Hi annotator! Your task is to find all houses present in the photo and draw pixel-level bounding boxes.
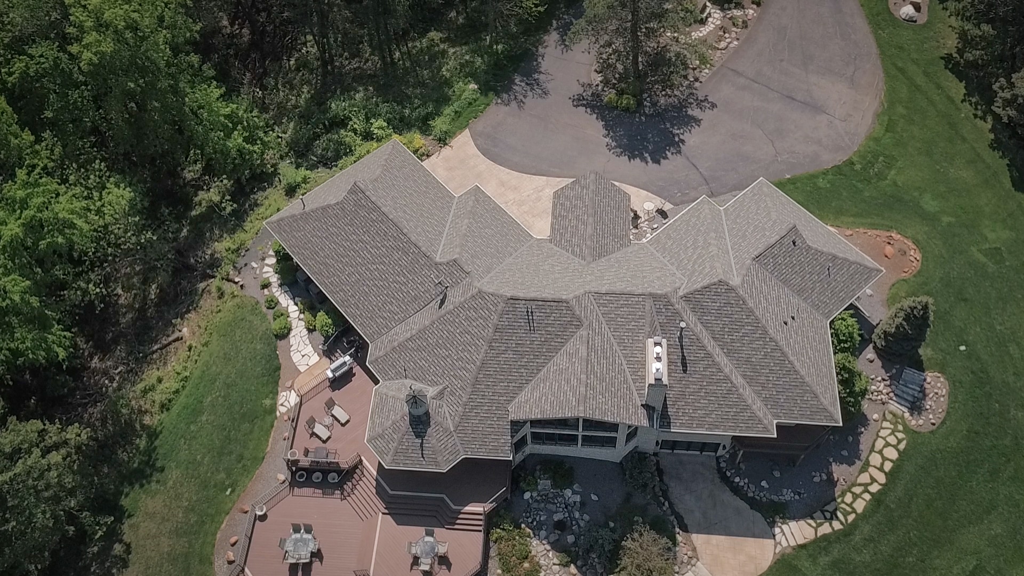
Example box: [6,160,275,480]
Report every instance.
[263,138,886,477]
